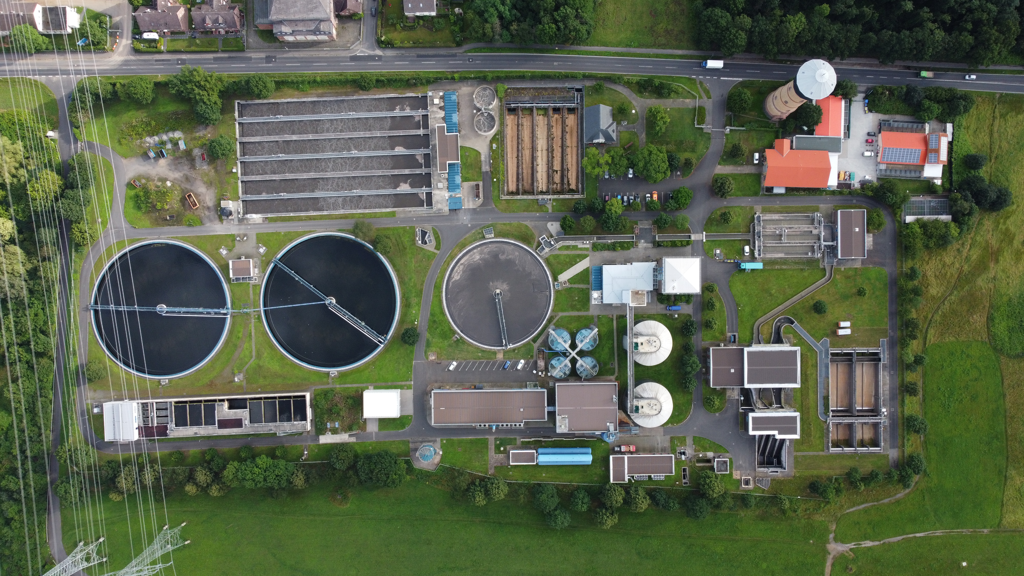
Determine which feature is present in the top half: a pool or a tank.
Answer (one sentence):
The one visible in the top half is a tank.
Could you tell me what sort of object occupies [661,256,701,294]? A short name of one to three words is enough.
building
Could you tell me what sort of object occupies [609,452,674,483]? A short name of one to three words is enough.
house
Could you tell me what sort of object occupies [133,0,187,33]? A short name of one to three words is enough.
house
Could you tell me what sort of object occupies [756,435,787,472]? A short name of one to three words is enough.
building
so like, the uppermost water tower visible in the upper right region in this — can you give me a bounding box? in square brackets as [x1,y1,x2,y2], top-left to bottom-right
[759,60,837,124]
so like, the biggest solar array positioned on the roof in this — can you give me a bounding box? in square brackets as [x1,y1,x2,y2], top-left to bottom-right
[882,147,921,163]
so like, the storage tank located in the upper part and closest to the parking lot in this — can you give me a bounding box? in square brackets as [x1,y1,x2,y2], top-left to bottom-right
[499,86,585,199]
